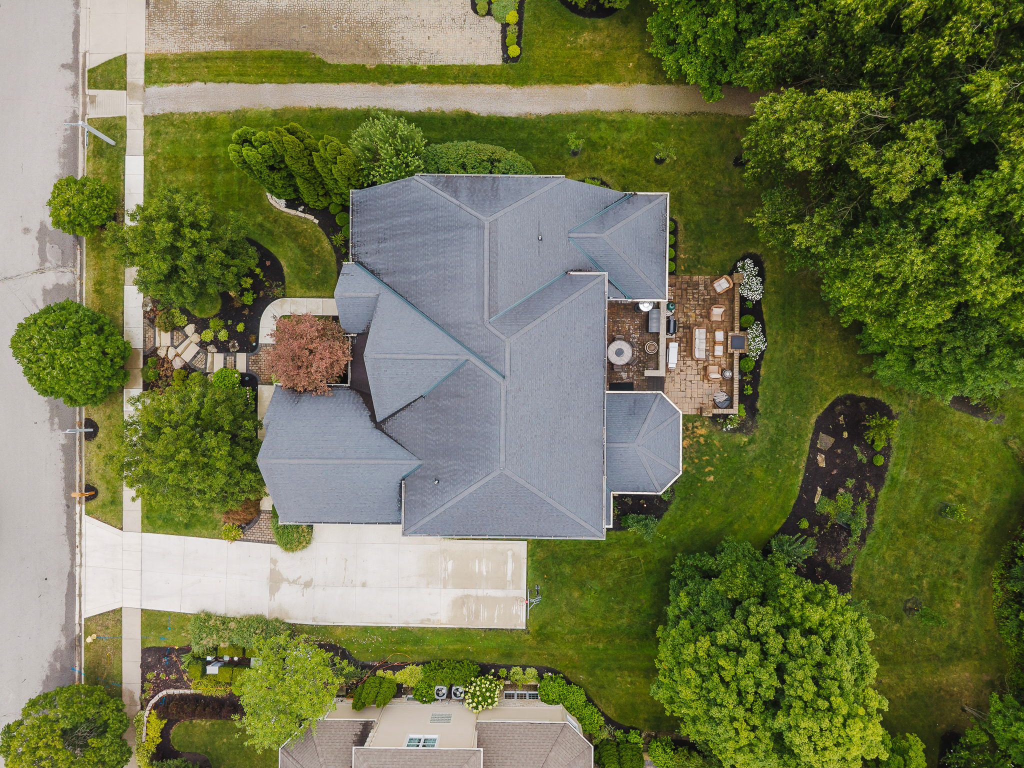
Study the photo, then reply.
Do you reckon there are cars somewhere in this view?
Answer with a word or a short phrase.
No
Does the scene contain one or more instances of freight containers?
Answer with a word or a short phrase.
No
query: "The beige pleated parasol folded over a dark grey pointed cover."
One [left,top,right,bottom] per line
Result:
[711,388,731,409]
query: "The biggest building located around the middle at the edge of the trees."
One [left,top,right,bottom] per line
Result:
[257,173,683,540]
